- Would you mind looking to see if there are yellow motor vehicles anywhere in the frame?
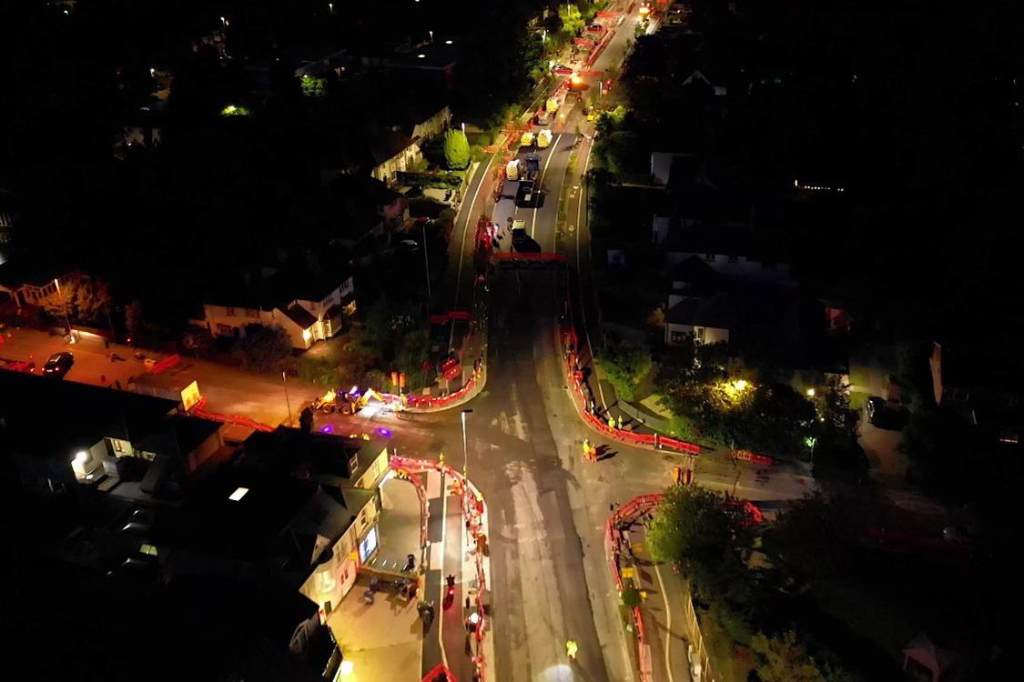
Yes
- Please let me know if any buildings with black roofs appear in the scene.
Yes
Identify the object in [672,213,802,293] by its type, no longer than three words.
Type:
house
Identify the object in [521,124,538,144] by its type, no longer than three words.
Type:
vehicle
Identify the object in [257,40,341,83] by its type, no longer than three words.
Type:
house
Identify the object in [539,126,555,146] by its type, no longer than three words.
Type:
vehicle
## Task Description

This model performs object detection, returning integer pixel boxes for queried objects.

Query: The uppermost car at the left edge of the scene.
[41,347,79,371]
